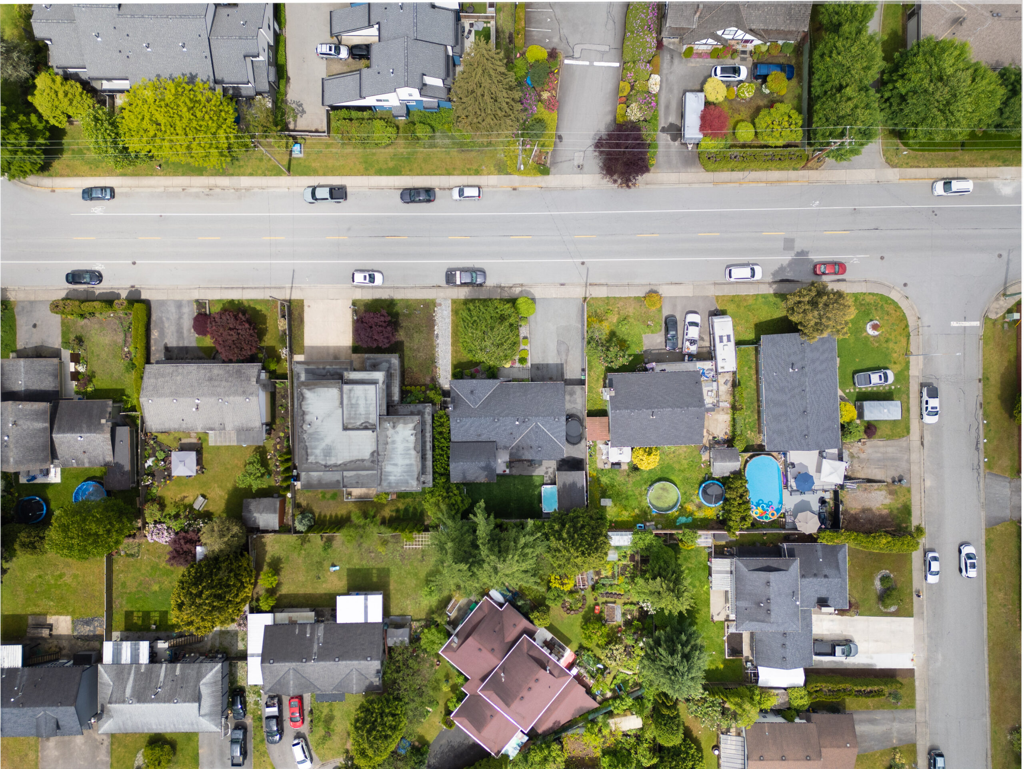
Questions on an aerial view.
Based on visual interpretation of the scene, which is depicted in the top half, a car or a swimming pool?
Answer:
car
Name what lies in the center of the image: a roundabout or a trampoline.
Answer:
trampoline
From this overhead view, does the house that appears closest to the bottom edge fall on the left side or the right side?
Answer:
right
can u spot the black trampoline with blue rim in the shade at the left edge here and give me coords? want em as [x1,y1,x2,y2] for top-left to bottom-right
[10,494,49,525]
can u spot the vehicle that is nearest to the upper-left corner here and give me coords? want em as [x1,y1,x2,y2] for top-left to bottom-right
[83,185,118,202]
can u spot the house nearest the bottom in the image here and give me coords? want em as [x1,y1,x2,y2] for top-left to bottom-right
[716,705,861,769]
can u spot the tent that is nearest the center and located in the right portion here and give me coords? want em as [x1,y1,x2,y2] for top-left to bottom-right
[607,446,631,462]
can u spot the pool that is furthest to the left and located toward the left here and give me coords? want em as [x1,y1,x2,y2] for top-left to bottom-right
[73,479,110,511]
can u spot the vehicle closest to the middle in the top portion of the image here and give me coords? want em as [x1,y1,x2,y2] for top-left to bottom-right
[445,268,487,285]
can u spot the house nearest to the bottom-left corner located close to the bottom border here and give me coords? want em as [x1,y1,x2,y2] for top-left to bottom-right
[0,636,102,742]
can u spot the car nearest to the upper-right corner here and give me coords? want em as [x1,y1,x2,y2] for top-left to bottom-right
[929,179,974,196]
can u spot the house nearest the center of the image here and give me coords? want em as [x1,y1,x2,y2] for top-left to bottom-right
[448,379,566,482]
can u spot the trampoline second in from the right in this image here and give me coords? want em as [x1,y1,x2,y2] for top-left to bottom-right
[566,415,582,446]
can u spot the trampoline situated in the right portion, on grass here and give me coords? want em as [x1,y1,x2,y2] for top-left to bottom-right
[698,480,728,508]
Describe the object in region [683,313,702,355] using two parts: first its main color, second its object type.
white vehicle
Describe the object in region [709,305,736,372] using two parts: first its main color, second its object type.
white vehicle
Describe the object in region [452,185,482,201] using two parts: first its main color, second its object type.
white car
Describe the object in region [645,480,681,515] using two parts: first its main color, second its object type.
green swimming pool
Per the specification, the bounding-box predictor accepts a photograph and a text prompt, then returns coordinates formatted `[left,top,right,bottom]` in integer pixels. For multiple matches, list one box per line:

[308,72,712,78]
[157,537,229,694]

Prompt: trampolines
[566,415,582,446]
[698,480,728,508]
[10,494,49,525]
